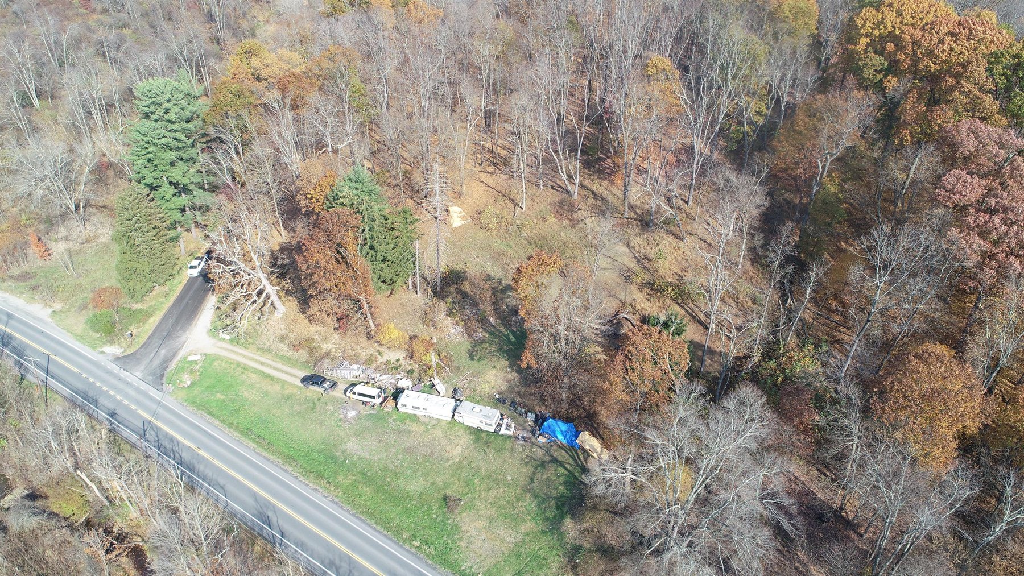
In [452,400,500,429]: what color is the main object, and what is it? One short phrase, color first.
white camper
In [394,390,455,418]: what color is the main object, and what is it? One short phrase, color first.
white trailer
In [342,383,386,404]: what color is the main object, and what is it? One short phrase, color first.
white vehicle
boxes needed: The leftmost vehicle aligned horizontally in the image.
[301,376,337,393]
